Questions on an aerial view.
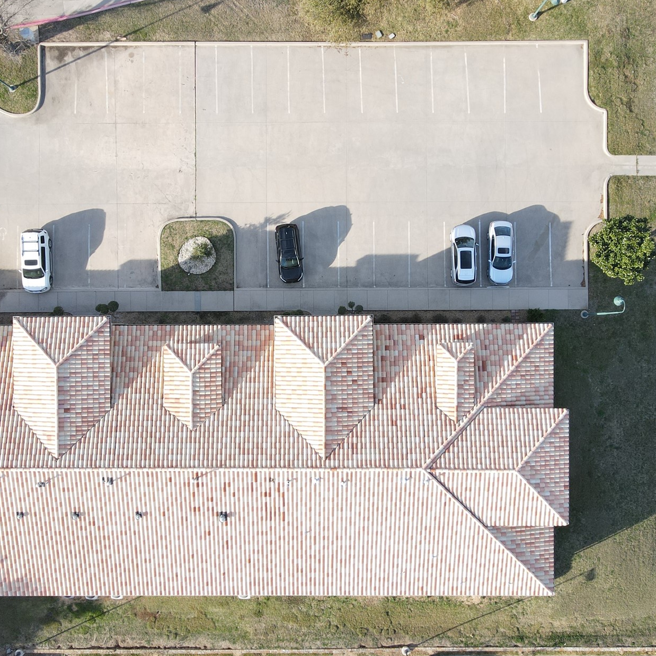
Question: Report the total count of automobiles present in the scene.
4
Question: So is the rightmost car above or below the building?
above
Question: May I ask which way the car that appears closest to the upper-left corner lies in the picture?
vertically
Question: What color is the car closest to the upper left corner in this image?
white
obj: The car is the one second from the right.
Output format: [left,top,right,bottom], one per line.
[448,225,480,286]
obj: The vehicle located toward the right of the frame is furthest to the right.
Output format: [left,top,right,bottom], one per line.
[485,221,516,285]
